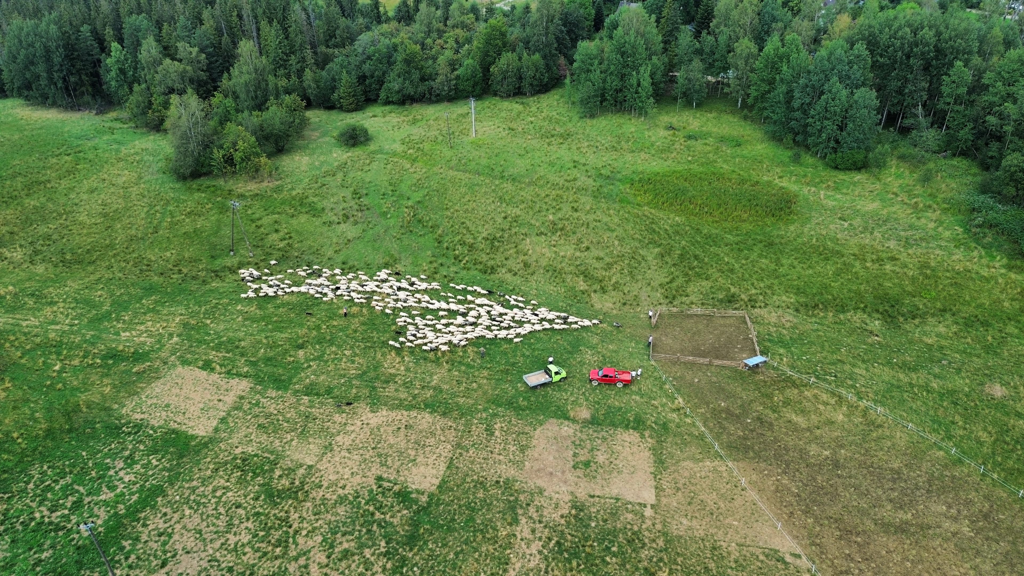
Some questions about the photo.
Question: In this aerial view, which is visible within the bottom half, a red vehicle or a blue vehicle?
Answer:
red vehicle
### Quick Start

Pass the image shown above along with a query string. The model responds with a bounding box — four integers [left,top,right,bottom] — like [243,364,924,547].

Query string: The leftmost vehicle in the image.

[520,364,567,389]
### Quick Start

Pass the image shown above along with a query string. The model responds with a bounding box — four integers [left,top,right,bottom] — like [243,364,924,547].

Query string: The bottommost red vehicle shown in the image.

[587,367,630,388]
